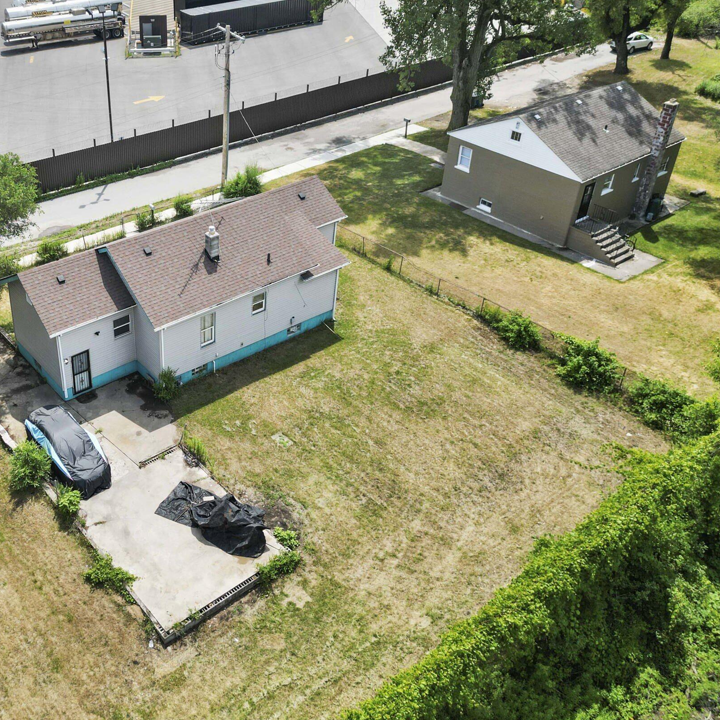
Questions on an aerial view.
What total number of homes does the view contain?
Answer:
2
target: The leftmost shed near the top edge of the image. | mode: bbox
[137,15,163,48]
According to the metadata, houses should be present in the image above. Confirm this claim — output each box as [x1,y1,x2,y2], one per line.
[439,81,694,266]
[2,171,354,399]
